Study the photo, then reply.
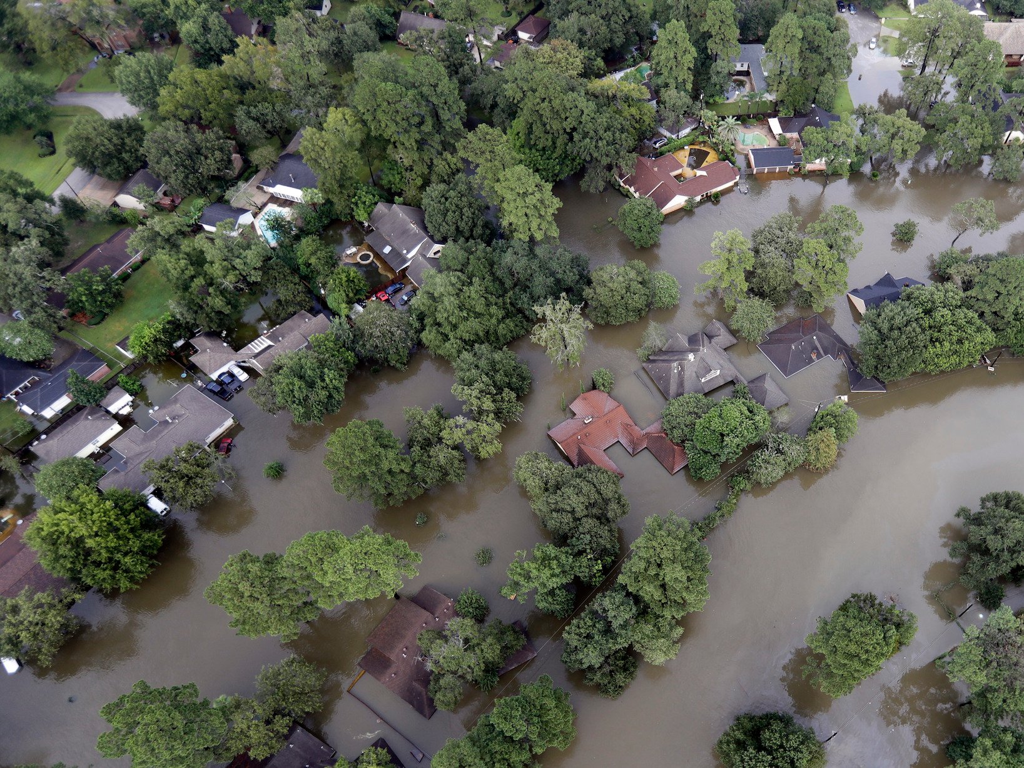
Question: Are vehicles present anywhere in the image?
Yes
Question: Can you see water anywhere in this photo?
Yes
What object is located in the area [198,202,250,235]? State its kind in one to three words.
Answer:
building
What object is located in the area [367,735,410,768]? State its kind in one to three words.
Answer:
house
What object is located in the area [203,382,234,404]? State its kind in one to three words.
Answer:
truck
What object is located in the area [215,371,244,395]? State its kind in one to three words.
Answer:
truck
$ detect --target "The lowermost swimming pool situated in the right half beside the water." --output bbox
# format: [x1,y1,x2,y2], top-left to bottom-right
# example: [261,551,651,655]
[738,128,773,148]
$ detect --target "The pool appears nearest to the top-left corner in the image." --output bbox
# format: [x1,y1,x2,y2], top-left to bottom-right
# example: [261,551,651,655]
[254,203,296,248]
